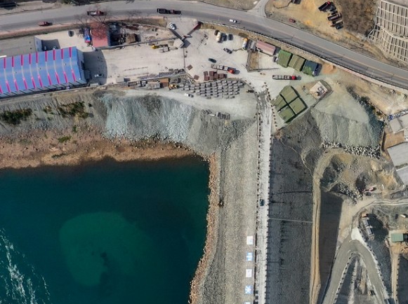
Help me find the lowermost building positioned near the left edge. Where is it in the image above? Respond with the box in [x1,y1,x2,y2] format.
[0,47,88,103]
